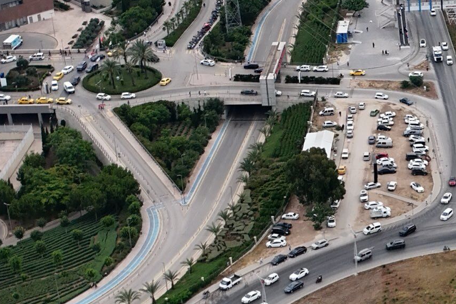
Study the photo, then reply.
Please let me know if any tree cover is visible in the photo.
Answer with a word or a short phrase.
Yes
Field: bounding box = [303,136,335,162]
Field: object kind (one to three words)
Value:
tent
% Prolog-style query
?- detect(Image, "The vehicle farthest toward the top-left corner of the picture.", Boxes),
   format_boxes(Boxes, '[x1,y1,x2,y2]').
[1,34,21,47]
